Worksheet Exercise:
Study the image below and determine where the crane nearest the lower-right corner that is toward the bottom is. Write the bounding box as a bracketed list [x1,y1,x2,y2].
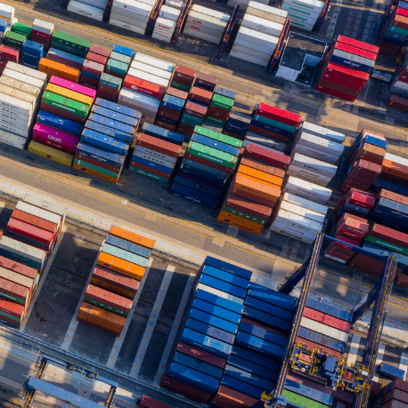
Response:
[246,221,405,408]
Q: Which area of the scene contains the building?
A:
top right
